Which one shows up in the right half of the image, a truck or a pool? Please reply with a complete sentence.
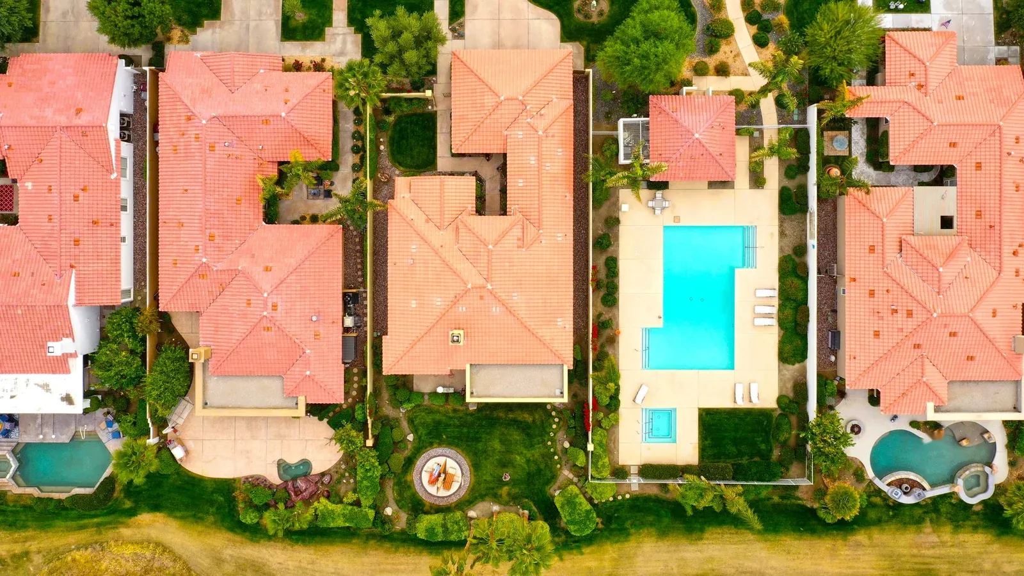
There is a pool in the right half of the image.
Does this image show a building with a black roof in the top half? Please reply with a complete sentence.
No, in the top half there is no building with a black roof.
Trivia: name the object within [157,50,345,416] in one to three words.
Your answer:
house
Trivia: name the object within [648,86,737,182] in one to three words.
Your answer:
building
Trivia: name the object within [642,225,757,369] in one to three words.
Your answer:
swimming pool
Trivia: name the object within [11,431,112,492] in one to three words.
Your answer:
swimming pool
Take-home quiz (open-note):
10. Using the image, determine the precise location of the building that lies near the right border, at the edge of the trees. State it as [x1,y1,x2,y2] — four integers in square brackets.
[837,31,1024,420]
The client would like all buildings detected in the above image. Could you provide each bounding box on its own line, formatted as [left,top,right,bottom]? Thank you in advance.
[157,50,345,416]
[0,52,140,414]
[648,86,737,182]
[837,31,1024,420]
[382,49,574,402]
